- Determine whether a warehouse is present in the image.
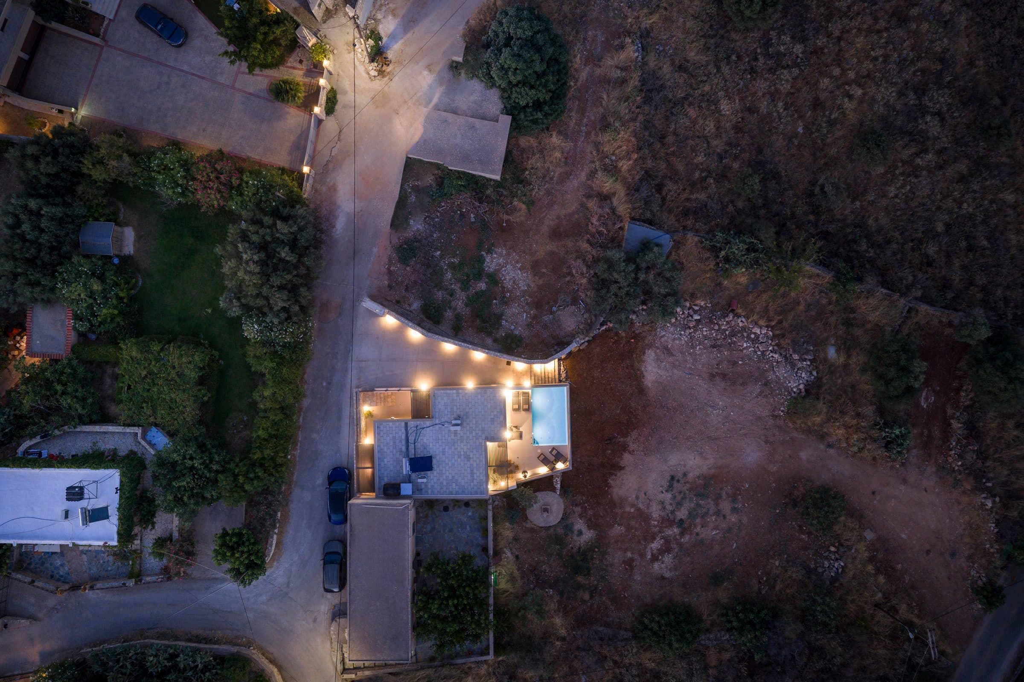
No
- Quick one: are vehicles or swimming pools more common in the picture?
vehicles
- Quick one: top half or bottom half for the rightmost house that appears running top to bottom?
bottom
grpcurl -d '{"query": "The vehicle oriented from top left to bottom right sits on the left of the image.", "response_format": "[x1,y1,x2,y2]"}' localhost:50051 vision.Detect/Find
[127,0,185,44]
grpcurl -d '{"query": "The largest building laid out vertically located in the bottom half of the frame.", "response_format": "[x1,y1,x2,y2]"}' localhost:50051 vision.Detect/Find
[348,496,419,661]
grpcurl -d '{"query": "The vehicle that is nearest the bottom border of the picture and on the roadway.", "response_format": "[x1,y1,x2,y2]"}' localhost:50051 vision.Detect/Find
[317,541,344,595]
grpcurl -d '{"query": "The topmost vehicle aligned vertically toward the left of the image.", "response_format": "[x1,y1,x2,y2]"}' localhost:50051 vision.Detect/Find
[321,468,348,527]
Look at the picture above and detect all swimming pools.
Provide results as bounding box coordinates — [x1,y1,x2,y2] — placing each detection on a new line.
[532,386,568,446]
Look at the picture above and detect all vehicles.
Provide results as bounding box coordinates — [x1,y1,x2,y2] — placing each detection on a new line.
[321,468,348,527]
[127,0,185,44]
[317,541,344,595]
